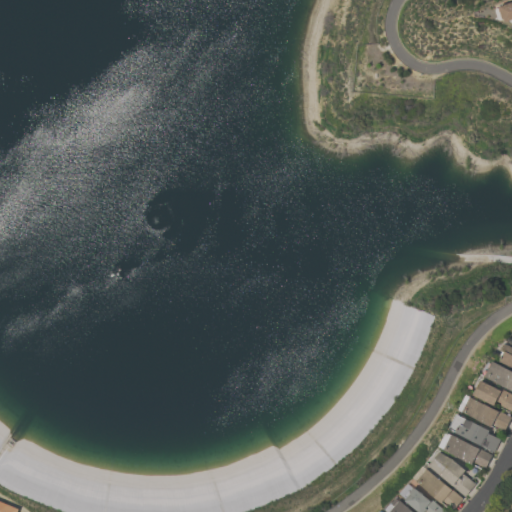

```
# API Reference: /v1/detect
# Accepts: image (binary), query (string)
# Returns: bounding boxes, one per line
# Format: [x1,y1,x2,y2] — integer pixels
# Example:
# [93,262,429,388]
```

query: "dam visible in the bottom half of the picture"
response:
[0,297,434,512]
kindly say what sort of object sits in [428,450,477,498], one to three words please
house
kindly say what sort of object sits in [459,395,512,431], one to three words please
house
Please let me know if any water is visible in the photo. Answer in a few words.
Yes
